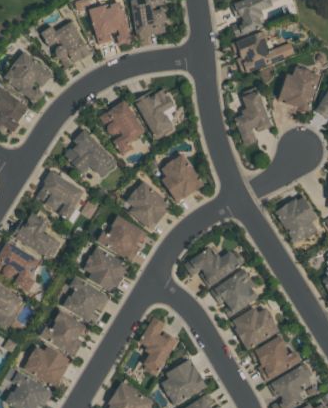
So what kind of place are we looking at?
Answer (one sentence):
This image shows a residential area.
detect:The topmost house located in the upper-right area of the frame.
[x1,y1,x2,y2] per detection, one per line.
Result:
[234,0,280,36]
